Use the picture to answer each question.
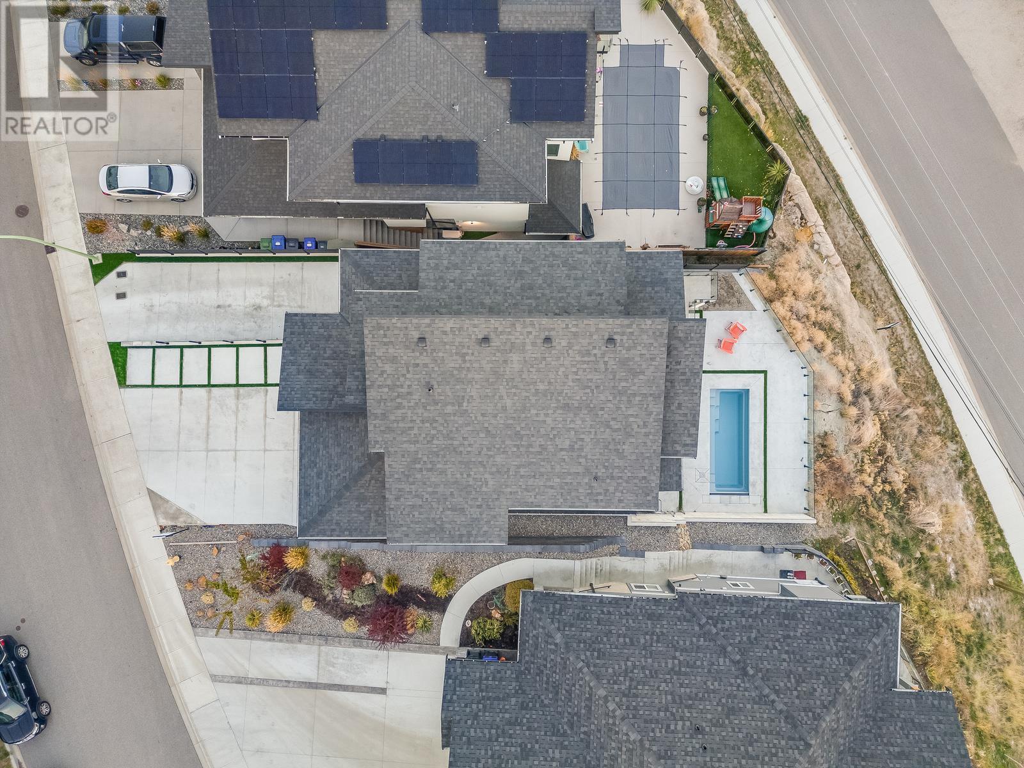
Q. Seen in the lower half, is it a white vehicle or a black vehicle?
black vehicle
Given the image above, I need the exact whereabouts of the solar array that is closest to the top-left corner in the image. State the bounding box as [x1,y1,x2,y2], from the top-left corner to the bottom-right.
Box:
[207,0,388,119]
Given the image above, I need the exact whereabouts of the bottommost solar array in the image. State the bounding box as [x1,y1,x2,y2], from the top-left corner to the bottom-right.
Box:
[350,140,479,185]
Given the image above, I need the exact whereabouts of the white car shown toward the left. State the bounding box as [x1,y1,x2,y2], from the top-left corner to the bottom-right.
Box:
[100,153,198,203]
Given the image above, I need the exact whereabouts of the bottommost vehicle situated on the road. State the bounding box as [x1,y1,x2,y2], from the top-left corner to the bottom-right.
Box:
[0,633,53,743]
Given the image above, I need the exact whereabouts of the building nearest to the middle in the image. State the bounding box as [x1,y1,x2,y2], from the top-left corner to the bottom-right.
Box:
[278,239,707,546]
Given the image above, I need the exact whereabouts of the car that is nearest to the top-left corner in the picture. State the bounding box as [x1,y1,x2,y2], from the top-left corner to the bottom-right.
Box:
[64,11,166,69]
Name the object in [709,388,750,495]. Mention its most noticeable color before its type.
blue swimming pool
